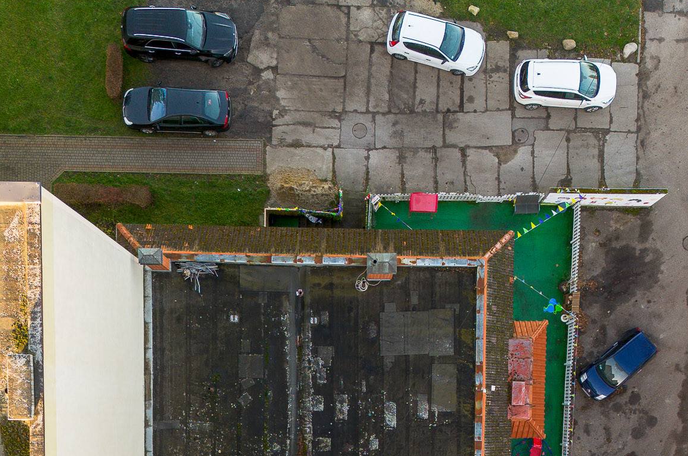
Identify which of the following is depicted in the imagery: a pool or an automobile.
automobile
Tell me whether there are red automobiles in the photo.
No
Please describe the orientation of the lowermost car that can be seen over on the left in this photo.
from side to side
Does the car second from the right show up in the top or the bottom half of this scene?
top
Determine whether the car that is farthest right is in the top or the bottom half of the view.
bottom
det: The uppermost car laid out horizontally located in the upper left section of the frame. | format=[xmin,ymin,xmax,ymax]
[122,8,236,70]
